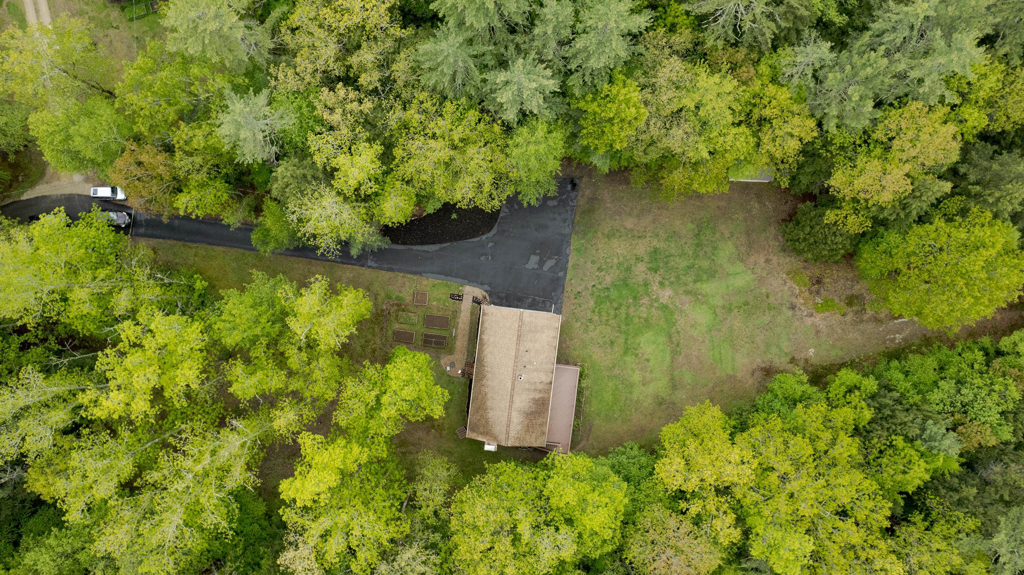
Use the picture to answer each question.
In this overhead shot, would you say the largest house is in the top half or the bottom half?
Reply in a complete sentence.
The bottom half of the photo is where the largest house is.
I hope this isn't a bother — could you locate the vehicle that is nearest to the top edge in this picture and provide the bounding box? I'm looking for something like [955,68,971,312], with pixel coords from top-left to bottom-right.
[87,186,129,203]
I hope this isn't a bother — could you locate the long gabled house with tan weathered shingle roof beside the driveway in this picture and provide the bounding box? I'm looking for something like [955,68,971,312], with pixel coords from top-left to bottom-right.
[465,305,563,453]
